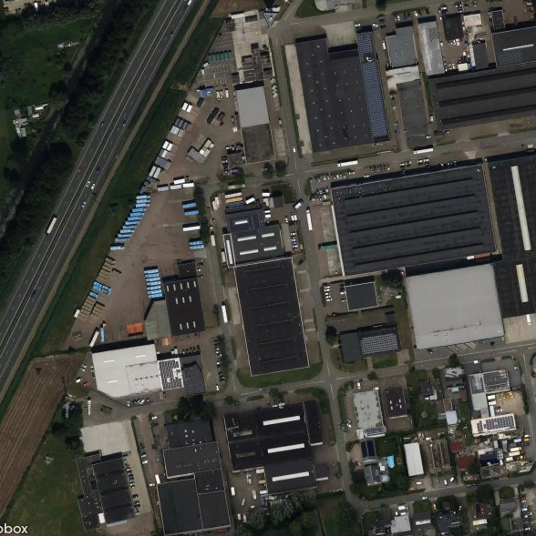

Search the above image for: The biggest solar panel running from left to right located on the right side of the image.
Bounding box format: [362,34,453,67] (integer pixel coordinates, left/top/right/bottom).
[361,332,398,355]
